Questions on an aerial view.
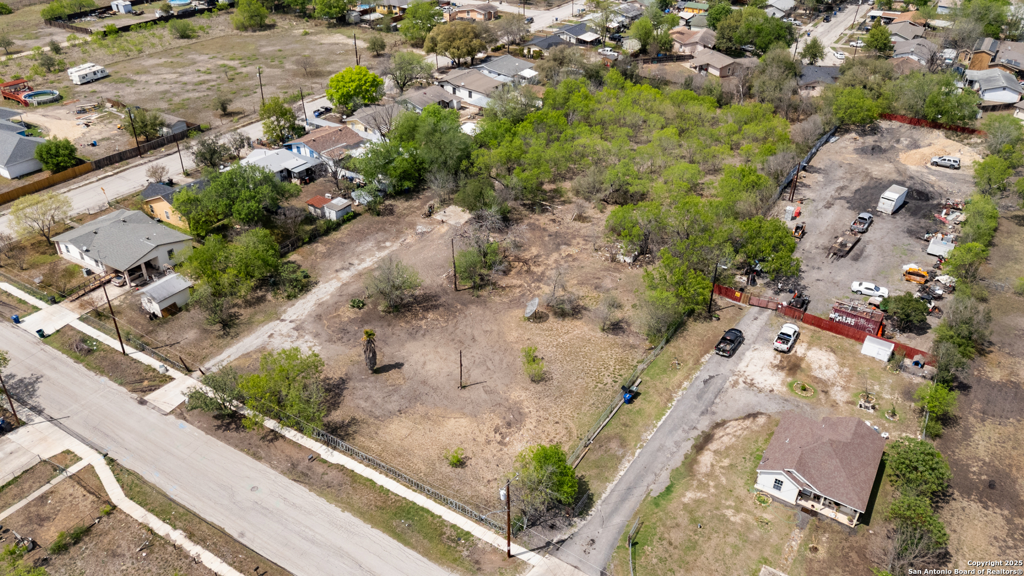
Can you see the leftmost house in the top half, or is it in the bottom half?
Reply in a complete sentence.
The top half of the photo is where the leftmost house is.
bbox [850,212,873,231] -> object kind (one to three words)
vehicle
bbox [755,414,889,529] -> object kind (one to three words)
house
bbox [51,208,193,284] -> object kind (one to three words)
house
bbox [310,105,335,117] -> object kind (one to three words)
vehicle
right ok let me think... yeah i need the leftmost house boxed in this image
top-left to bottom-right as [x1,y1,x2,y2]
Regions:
[0,112,47,179]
